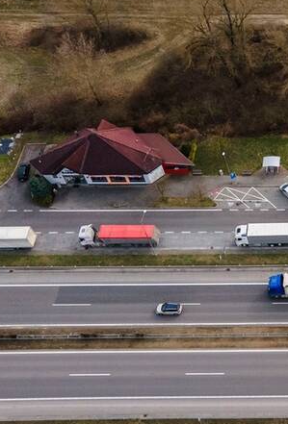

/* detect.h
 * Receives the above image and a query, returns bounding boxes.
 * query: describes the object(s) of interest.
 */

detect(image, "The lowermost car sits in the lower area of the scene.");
[154,302,182,316]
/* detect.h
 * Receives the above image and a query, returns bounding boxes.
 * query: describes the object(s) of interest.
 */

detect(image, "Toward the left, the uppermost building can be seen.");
[30,120,196,184]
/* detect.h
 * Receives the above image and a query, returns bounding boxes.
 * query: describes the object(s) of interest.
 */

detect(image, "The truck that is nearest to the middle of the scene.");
[77,224,159,248]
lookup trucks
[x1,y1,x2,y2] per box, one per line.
[77,224,159,248]
[0,224,39,249]
[232,221,288,246]
[267,272,288,297]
